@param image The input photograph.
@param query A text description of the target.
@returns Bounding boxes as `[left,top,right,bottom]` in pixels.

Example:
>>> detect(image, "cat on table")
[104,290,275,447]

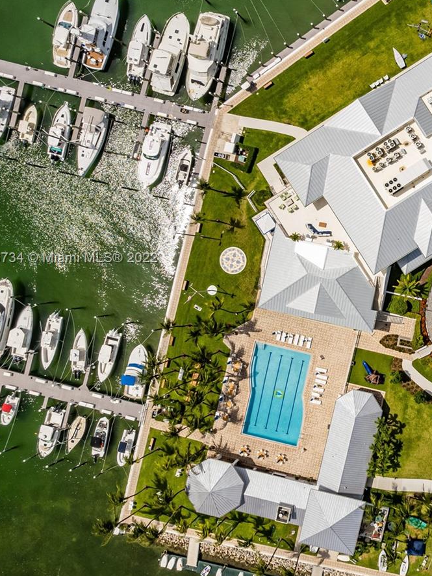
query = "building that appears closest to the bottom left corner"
[185,458,240,519]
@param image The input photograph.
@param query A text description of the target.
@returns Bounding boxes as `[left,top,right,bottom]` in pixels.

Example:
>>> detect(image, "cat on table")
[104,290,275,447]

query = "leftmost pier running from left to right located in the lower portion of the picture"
[0,366,147,422]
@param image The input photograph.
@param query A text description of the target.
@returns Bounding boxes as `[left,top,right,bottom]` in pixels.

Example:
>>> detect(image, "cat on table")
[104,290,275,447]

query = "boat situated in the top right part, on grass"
[392,47,406,68]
